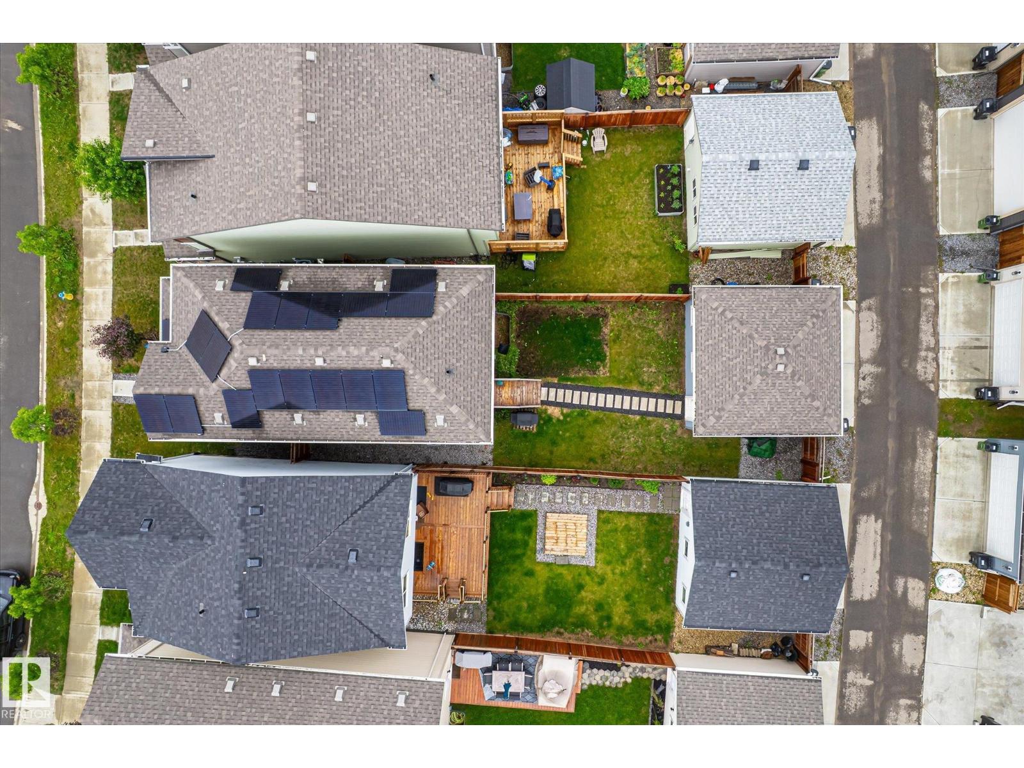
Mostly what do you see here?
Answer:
buildings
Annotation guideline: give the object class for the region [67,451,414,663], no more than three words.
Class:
house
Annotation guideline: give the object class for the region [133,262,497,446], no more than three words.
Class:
house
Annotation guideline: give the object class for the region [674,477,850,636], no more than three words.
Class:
building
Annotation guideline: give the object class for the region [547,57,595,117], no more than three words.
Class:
shed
